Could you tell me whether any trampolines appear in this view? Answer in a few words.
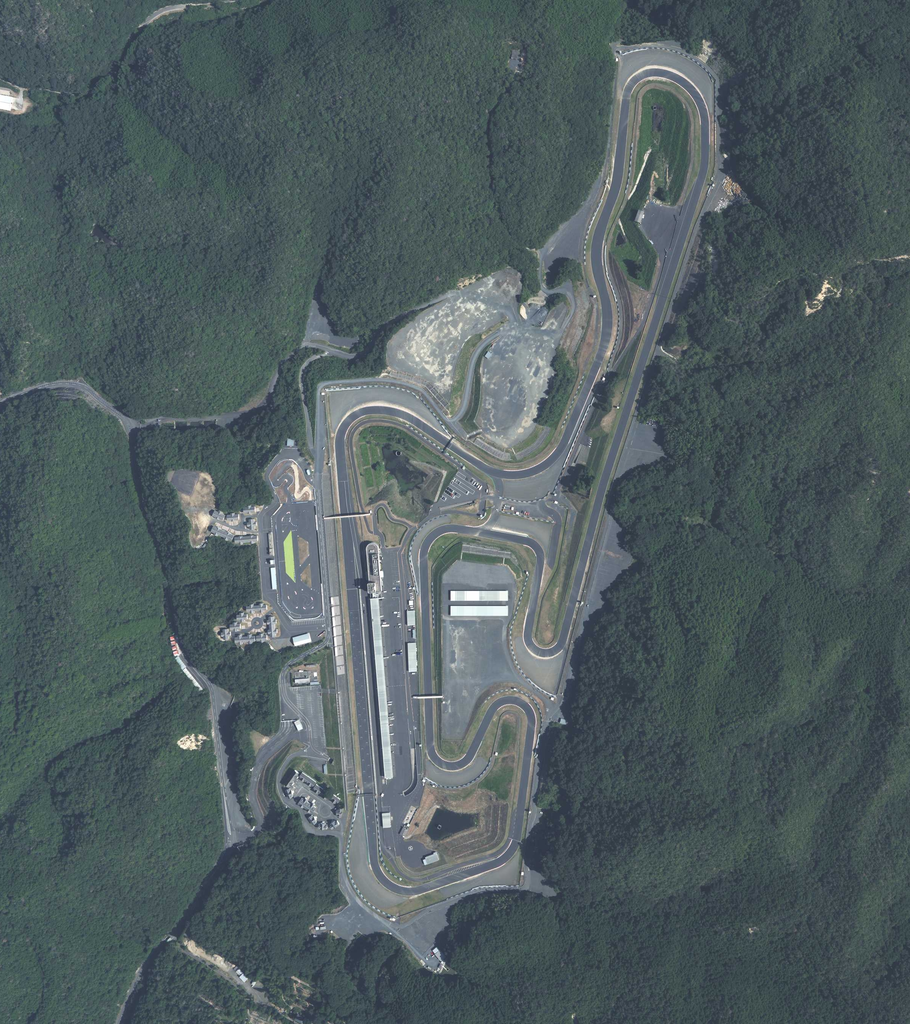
No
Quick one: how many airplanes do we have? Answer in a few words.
0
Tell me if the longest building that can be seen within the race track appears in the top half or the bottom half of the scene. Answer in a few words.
bottom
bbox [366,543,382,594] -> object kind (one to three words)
building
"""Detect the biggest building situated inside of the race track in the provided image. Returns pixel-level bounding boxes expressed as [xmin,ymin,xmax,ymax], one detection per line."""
[369,598,393,783]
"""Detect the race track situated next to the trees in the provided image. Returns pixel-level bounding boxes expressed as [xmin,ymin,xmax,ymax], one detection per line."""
[335,68,710,896]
